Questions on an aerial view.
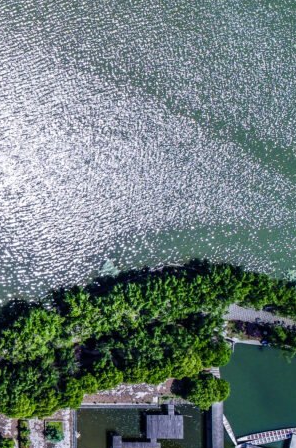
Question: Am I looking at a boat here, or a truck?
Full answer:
I can see a boat in this picture.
